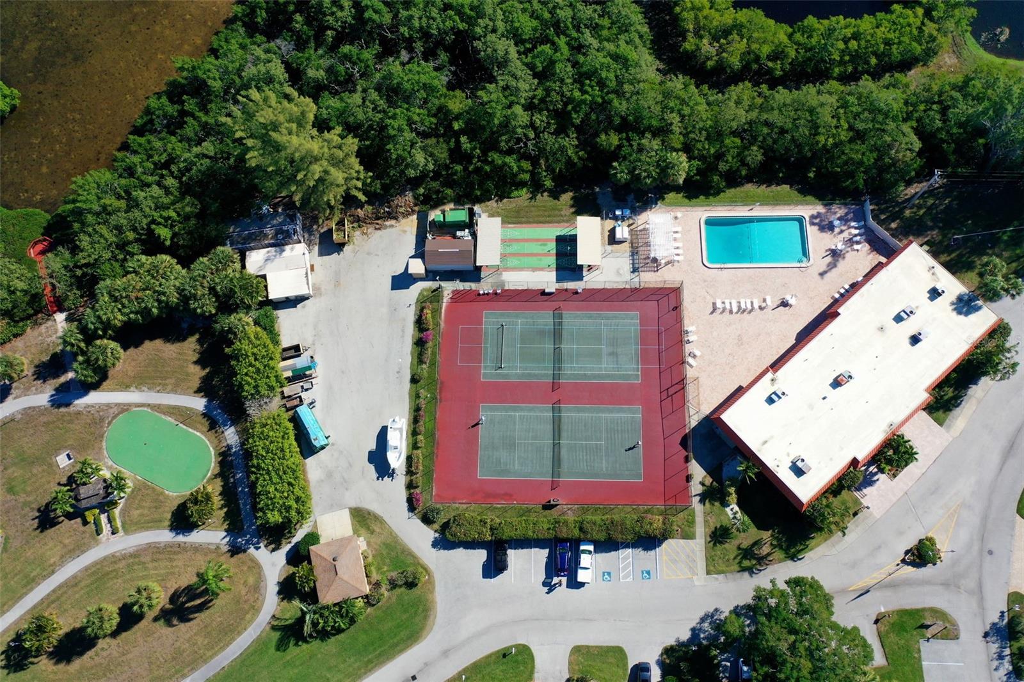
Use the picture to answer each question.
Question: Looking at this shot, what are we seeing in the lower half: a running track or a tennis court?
tennis court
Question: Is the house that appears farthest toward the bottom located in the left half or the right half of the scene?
left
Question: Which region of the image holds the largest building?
right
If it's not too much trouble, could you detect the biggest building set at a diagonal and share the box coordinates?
[708,242,1000,513]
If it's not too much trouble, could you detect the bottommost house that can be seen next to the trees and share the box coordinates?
[310,536,367,604]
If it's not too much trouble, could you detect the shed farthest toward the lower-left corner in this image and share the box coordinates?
[60,478,104,515]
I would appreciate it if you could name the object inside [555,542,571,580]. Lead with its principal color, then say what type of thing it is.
blue car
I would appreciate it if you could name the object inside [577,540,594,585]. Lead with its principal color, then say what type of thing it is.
white vehicle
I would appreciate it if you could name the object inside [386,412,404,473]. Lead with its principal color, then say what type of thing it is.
white boat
